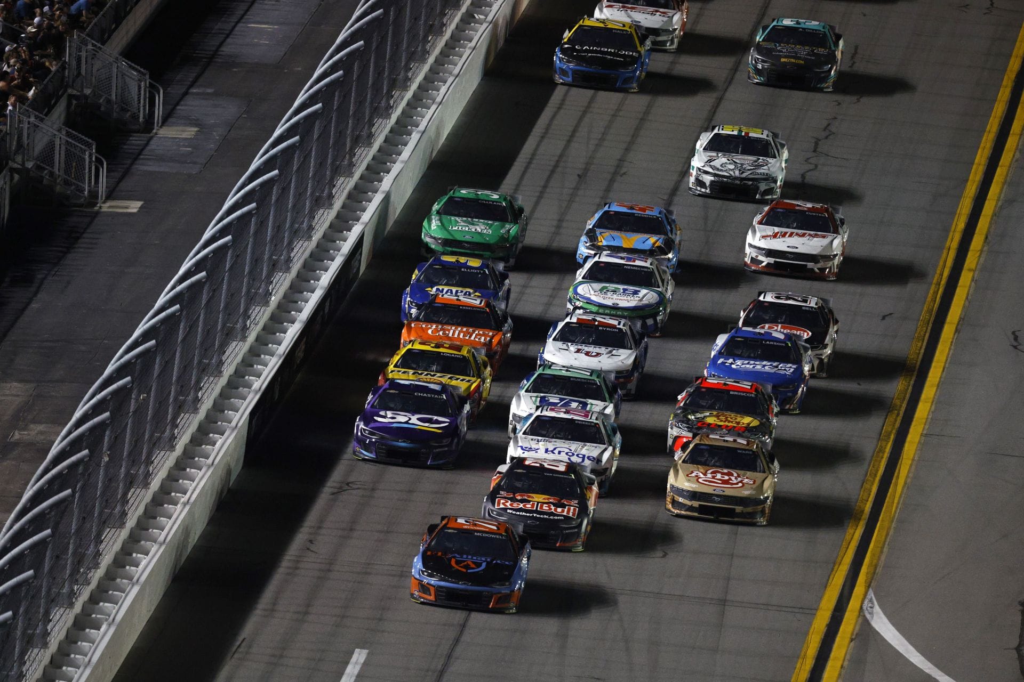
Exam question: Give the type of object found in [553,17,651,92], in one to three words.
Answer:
car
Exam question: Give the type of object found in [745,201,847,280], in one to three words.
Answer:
car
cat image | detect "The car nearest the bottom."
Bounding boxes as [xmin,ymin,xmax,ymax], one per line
[412,516,531,614]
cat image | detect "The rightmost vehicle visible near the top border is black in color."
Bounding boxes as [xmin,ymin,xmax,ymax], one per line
[749,18,844,91]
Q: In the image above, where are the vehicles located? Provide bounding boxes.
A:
[745,201,847,280]
[353,379,471,471]
[576,201,682,281]
[381,338,492,428]
[412,516,531,614]
[749,18,844,91]
[482,458,600,553]
[566,252,673,337]
[738,291,840,378]
[402,257,512,330]
[553,17,651,92]
[664,432,779,526]
[508,363,622,443]
[402,296,513,380]
[594,0,688,50]
[705,329,813,414]
[507,405,622,498]
[667,376,779,456]
[420,187,527,270]
[538,315,647,400]
[689,126,789,203]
